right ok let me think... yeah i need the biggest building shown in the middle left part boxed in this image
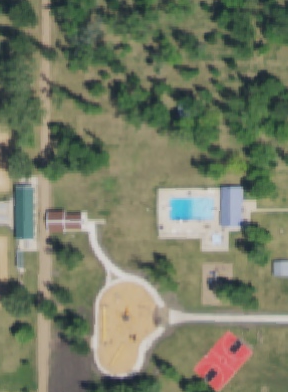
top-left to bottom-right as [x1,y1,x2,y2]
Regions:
[14,185,34,238]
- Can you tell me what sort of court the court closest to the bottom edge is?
basketball court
